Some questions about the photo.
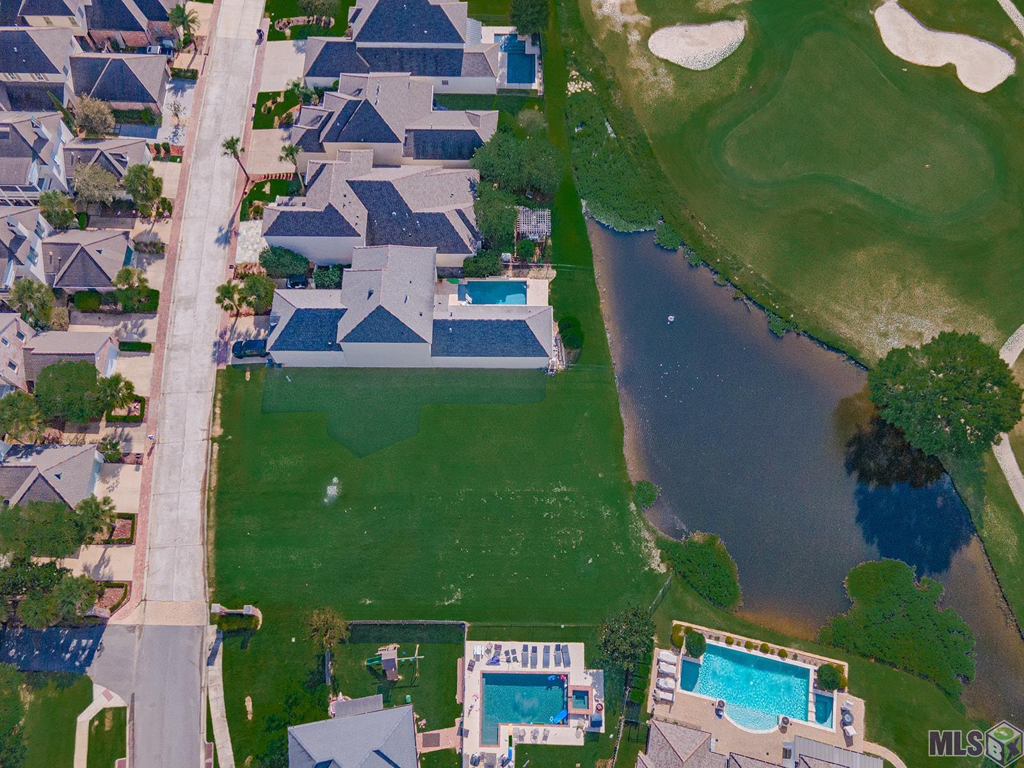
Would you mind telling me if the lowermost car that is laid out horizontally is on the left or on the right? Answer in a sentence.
You can find the lowermost car that is laid out horizontally on the left side of the picture.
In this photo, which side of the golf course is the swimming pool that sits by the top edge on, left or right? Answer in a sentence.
In the image, the swimming pool that sits by the top edge sits on the left side of the golf course.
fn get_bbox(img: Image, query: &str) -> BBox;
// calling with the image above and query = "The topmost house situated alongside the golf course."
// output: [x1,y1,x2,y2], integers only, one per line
[304,0,498,93]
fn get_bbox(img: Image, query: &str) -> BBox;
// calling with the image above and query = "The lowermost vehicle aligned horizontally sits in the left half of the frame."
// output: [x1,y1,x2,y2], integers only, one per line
[228,339,269,359]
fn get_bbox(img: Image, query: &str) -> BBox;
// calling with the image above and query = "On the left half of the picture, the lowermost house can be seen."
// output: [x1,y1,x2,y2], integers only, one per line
[287,694,420,768]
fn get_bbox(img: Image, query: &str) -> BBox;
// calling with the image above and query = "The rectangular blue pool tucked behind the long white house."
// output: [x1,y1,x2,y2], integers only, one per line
[456,279,529,306]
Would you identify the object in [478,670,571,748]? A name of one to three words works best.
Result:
swimming pool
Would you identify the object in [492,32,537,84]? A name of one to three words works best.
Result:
swimming pool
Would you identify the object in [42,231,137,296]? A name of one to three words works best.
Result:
building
